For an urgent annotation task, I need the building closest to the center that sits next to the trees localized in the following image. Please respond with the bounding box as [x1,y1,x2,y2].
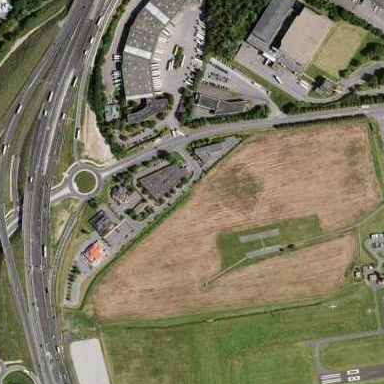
[139,165,181,200]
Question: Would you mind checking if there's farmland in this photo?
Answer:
Yes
